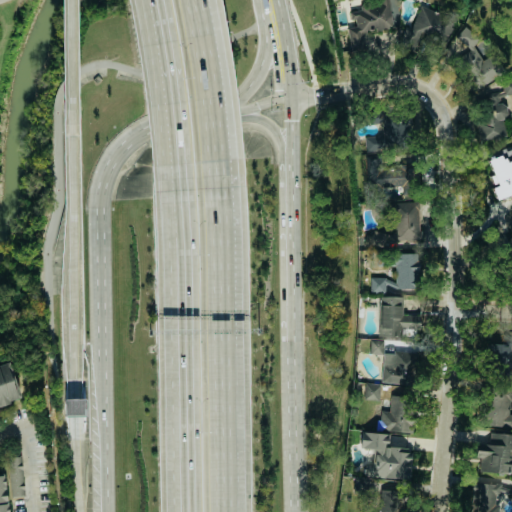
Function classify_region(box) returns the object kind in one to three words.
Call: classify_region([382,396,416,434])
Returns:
house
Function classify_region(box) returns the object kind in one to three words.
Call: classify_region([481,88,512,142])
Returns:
house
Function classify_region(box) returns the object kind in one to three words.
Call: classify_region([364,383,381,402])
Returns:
building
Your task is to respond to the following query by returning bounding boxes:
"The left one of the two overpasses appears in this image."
[62,0,86,424]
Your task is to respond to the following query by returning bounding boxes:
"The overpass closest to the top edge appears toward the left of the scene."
[130,0,248,192]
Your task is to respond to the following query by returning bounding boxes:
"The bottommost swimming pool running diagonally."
[362,357,379,378]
